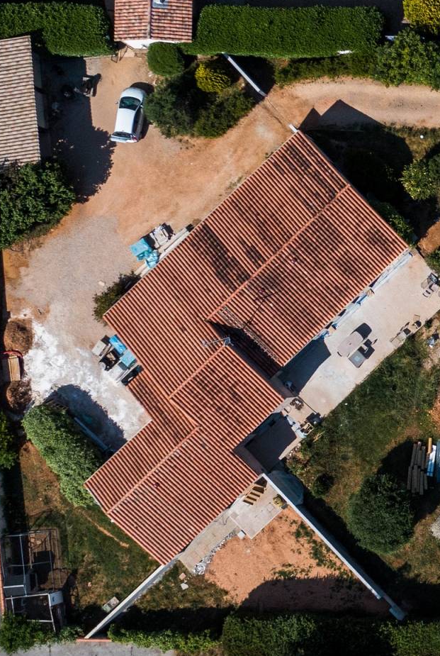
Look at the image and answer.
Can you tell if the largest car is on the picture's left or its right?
left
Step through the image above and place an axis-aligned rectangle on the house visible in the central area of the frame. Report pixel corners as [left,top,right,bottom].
[75,123,412,570]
